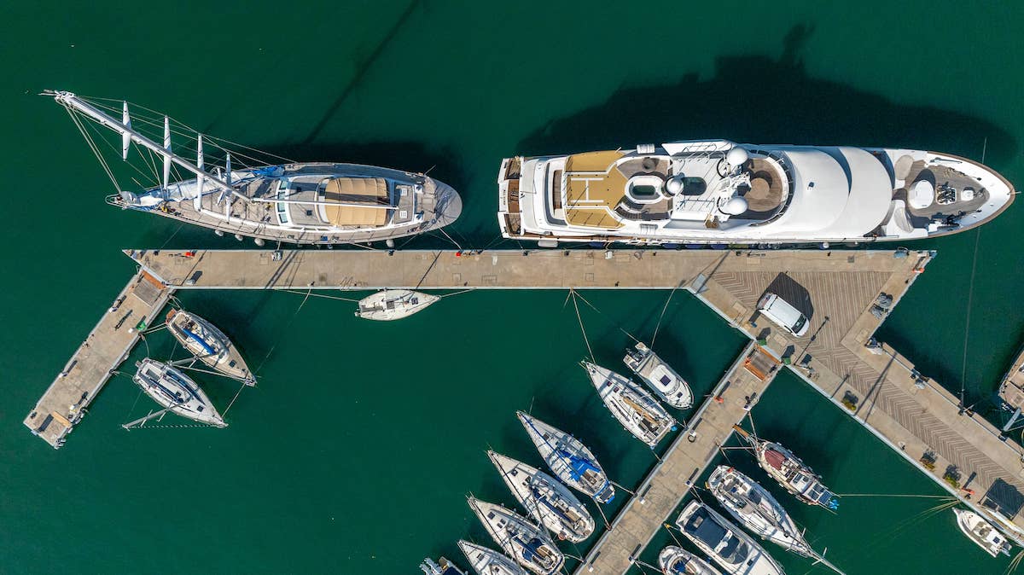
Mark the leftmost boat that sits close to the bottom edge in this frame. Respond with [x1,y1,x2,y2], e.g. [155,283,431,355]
[424,550,471,575]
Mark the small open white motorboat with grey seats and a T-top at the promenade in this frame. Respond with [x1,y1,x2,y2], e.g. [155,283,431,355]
[950,508,1012,559]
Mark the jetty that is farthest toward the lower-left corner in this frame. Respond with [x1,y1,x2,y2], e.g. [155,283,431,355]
[23,271,177,448]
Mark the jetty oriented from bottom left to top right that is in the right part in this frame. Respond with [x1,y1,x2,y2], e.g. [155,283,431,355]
[566,339,784,575]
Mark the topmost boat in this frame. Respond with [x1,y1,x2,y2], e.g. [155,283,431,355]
[27,84,484,253]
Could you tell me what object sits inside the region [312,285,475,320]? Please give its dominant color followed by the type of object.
white boat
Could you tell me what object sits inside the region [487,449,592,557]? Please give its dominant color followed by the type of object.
white boat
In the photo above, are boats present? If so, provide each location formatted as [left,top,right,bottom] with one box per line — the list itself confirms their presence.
[312,285,475,320]
[487,449,592,557]
[114,334,230,428]
[572,290,685,461]
[27,84,484,253]
[635,546,717,575]
[466,127,1020,407]
[142,298,280,418]
[424,550,471,575]
[467,497,584,575]
[456,539,534,575]
[619,289,696,409]
[694,466,863,575]
[666,484,782,575]
[720,417,956,521]
[950,508,1012,559]
[515,396,635,526]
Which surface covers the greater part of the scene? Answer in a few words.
water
